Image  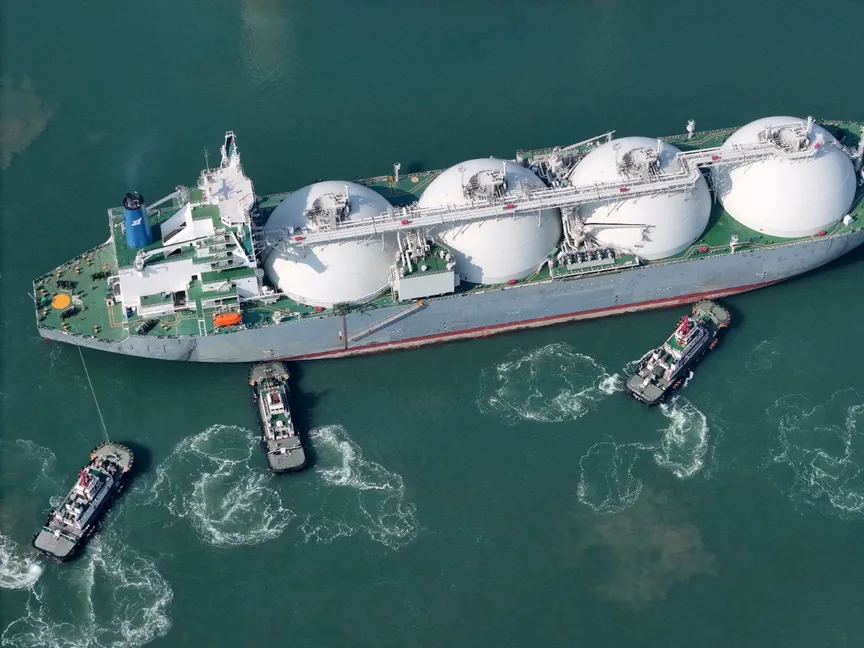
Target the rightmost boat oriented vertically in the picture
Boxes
[251,358,305,482]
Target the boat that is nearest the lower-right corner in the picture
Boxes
[629,300,730,410]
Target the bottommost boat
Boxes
[36,438,127,568]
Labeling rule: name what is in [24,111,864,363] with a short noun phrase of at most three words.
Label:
ship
